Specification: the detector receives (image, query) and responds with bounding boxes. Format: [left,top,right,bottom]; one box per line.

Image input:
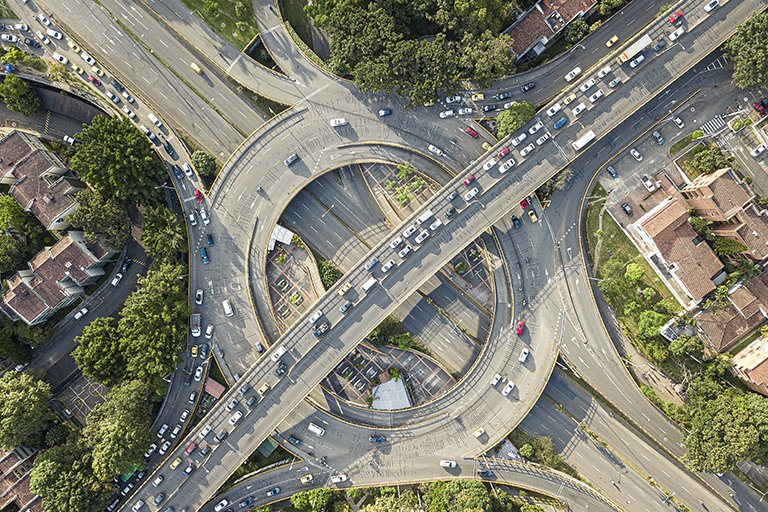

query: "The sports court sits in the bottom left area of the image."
[56,376,115,424]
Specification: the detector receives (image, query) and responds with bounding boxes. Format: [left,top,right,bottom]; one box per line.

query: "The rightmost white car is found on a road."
[751,143,766,157]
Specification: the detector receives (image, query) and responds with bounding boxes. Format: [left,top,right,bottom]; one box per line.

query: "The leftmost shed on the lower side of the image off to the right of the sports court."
[202,375,228,400]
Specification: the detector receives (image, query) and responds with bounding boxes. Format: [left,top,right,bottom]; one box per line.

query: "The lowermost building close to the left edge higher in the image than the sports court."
[4,238,122,325]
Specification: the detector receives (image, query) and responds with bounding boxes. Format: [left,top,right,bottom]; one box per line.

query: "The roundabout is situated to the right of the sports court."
[203,76,564,493]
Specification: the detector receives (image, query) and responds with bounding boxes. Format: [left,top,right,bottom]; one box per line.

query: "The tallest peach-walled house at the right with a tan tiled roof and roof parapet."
[683,168,760,232]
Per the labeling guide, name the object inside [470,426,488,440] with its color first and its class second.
white vehicle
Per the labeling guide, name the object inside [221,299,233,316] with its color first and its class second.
white vehicle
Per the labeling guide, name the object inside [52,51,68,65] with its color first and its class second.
white car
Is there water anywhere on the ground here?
No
